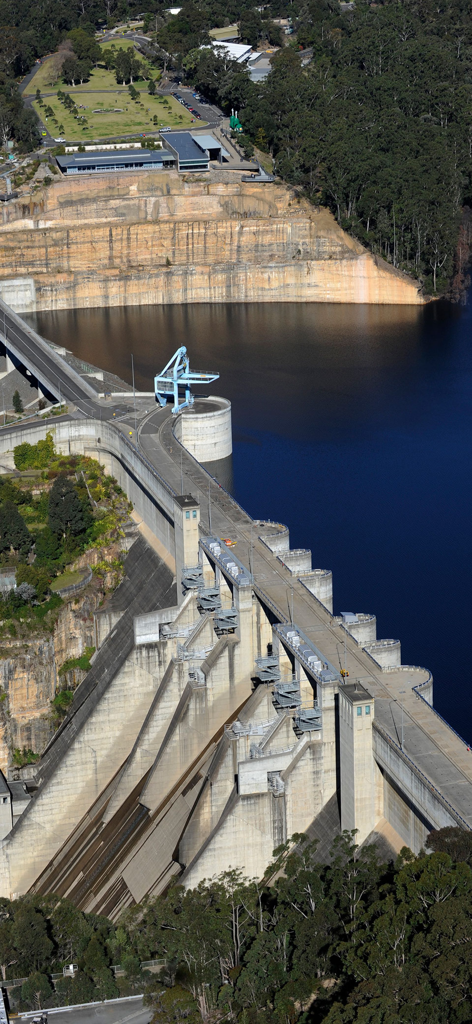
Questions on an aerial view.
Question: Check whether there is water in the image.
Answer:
Yes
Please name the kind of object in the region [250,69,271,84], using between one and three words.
shed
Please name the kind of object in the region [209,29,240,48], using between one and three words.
shed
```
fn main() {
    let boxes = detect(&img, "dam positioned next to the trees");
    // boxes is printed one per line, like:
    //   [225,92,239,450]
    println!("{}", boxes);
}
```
[0,370,472,1010]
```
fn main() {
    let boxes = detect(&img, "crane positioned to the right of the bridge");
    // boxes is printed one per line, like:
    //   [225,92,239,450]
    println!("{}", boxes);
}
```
[150,334,222,415]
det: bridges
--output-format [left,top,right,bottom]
[0,300,98,411]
